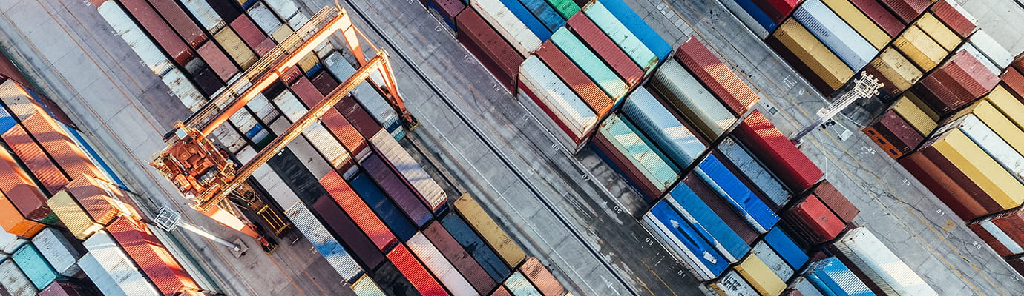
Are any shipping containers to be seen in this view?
Yes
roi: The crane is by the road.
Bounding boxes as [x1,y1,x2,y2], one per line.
[133,0,426,263]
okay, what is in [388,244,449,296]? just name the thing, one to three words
shipping container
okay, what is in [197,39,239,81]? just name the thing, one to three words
shipping container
